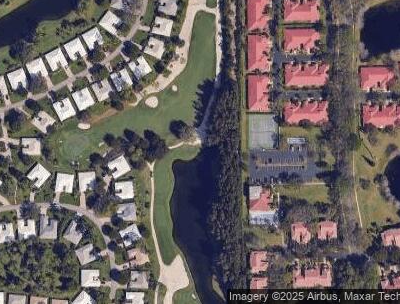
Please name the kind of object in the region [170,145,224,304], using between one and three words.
pond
